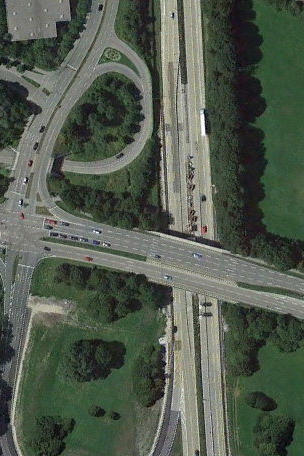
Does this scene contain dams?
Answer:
No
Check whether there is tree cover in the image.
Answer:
Yes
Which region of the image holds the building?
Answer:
top left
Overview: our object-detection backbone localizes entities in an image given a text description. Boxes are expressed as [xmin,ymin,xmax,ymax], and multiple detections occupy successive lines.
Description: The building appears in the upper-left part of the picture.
[8,0,70,40]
